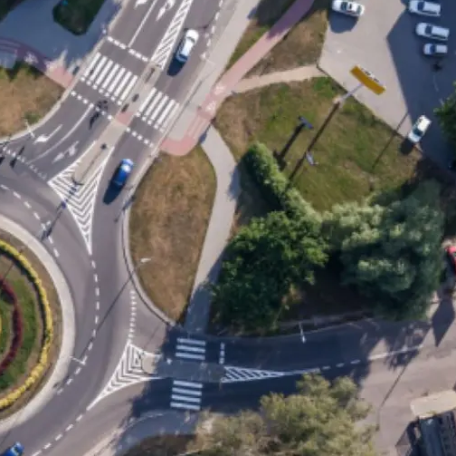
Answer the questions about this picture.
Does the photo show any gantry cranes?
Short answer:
No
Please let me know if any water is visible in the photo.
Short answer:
No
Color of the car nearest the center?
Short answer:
blue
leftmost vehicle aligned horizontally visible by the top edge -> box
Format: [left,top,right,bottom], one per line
[332,0,365,19]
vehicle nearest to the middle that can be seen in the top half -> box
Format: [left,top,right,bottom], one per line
[110,156,132,188]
